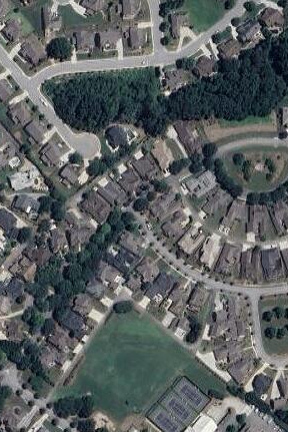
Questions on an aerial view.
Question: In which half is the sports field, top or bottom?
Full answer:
You can find the sports field in the bottom half.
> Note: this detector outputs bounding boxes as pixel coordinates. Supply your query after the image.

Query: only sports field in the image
[51,308,220,418]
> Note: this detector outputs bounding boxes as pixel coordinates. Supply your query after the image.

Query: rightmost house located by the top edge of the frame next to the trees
[260,4,285,32]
